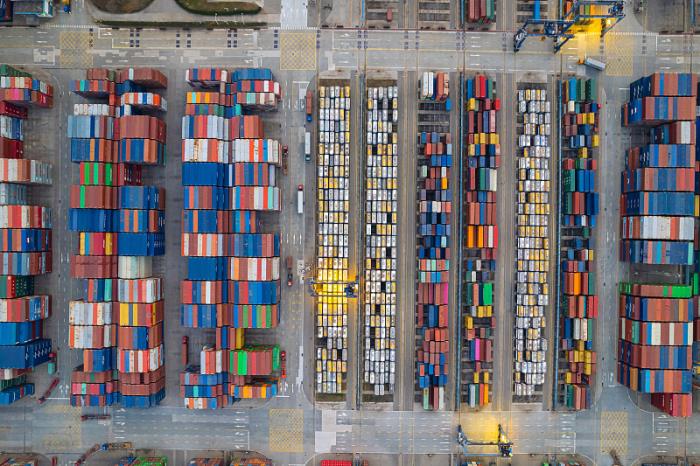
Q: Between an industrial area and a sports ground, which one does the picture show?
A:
industrial area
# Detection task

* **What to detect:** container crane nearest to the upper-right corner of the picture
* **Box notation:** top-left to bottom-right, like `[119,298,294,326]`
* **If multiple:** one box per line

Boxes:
[563,0,630,38]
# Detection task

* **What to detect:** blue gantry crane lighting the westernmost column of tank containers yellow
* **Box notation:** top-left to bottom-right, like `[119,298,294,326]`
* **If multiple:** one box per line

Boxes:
[310,276,362,299]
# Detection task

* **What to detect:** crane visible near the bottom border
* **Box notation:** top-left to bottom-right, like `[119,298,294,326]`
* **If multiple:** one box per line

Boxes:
[459,422,517,457]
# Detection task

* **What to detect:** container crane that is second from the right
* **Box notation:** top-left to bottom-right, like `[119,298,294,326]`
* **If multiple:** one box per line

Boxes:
[514,18,577,53]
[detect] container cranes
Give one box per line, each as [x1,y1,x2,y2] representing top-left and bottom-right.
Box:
[514,18,577,53]
[310,276,362,299]
[563,0,630,38]
[459,422,517,457]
